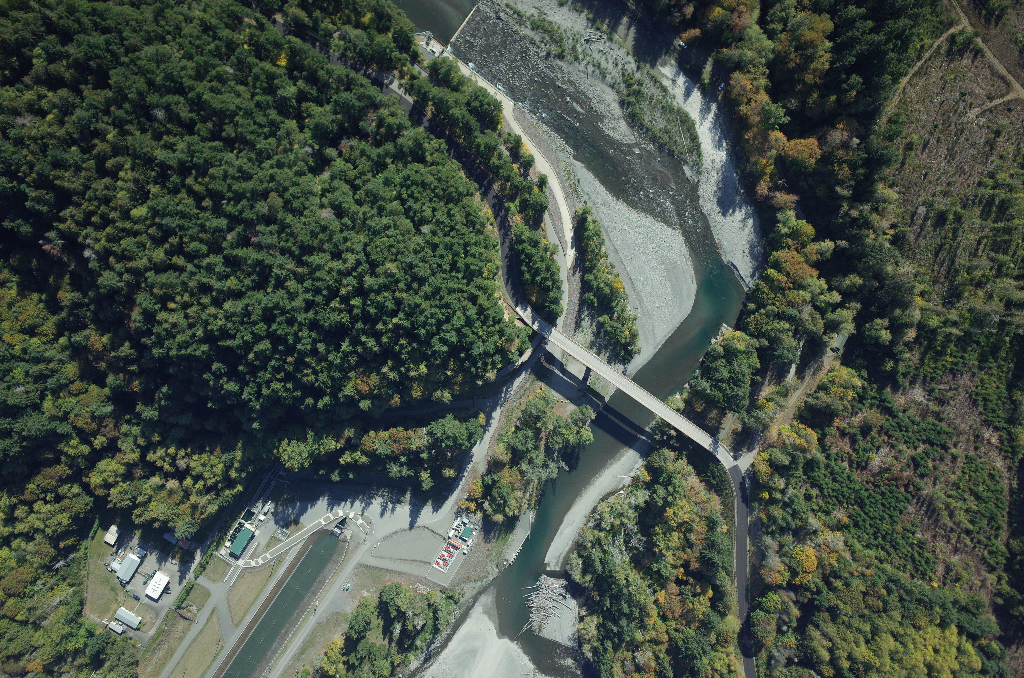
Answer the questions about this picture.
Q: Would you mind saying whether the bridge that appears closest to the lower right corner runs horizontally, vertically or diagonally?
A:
diagonally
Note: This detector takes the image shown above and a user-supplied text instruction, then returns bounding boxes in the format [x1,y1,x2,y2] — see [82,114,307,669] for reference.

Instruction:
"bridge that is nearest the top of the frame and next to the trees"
[516,301,738,470]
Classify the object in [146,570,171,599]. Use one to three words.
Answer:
house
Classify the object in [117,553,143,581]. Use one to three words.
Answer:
building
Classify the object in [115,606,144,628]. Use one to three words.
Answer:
house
